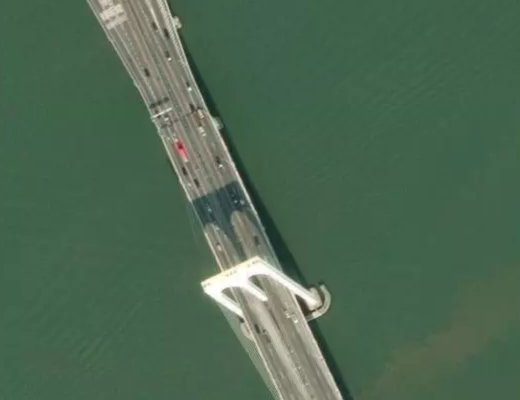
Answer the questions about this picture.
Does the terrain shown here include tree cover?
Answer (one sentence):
No, the scene doesn't show any tree cover.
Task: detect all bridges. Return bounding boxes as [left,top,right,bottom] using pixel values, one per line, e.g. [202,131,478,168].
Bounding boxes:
[87,0,344,400]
